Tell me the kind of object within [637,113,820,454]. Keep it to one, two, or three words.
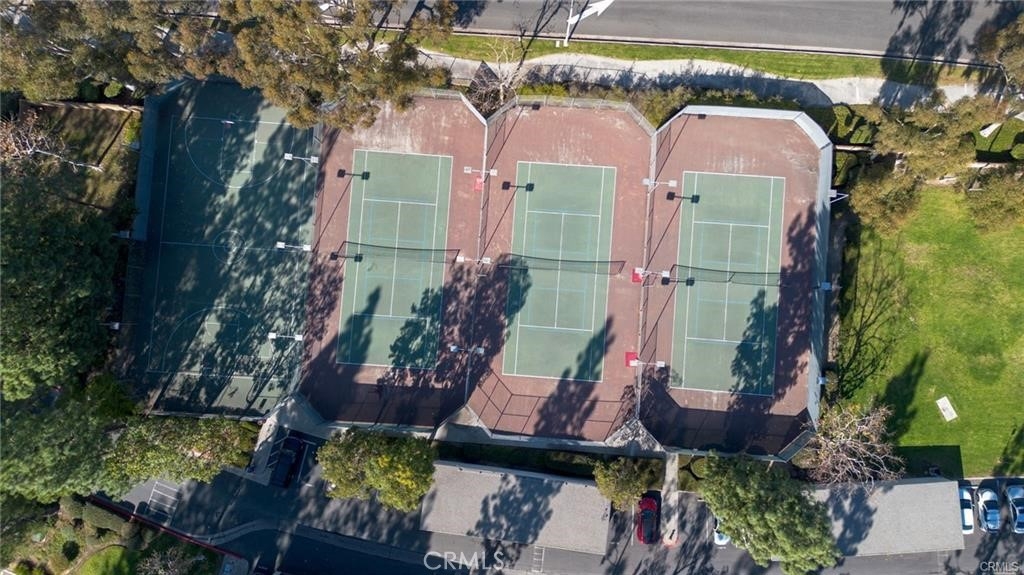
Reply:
tennis court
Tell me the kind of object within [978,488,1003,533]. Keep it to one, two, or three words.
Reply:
car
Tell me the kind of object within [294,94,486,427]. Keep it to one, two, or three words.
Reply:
tennis court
